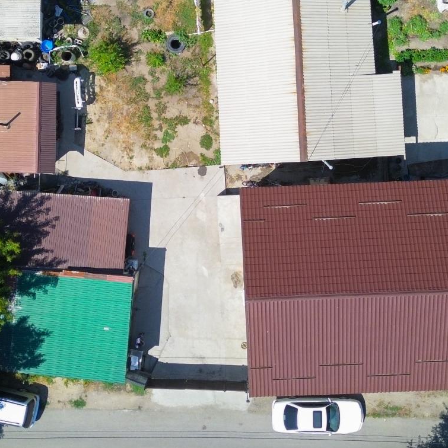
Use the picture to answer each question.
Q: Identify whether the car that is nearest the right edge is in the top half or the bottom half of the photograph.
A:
bottom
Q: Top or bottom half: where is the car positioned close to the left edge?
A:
bottom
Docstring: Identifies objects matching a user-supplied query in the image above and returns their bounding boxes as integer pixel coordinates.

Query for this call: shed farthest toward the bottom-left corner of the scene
[0,267,144,383]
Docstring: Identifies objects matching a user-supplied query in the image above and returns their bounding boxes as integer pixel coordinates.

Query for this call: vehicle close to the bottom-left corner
[0,385,37,429]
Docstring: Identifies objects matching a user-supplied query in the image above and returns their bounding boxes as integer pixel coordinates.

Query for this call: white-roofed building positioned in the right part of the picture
[214,0,417,169]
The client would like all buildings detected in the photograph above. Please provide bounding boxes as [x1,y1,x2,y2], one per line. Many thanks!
[0,80,61,175]
[0,267,144,383]
[238,179,448,397]
[0,191,131,269]
[0,0,51,44]
[214,0,417,169]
